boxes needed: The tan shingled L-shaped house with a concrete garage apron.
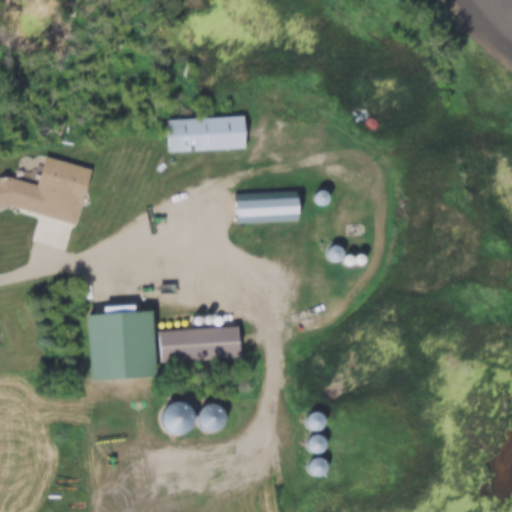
[0,156,92,225]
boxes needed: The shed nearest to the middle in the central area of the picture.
[235,191,300,224]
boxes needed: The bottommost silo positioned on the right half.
[305,456,329,478]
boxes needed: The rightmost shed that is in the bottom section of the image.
[159,326,242,362]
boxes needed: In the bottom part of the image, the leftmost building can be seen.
[88,312,156,380]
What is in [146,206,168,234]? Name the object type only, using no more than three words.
work vehicle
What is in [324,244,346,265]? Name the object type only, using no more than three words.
silo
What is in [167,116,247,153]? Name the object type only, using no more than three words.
shed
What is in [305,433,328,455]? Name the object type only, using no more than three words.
silo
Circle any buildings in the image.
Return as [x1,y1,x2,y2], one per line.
[159,326,242,362]
[235,191,300,224]
[0,156,92,225]
[88,312,156,380]
[167,116,247,153]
